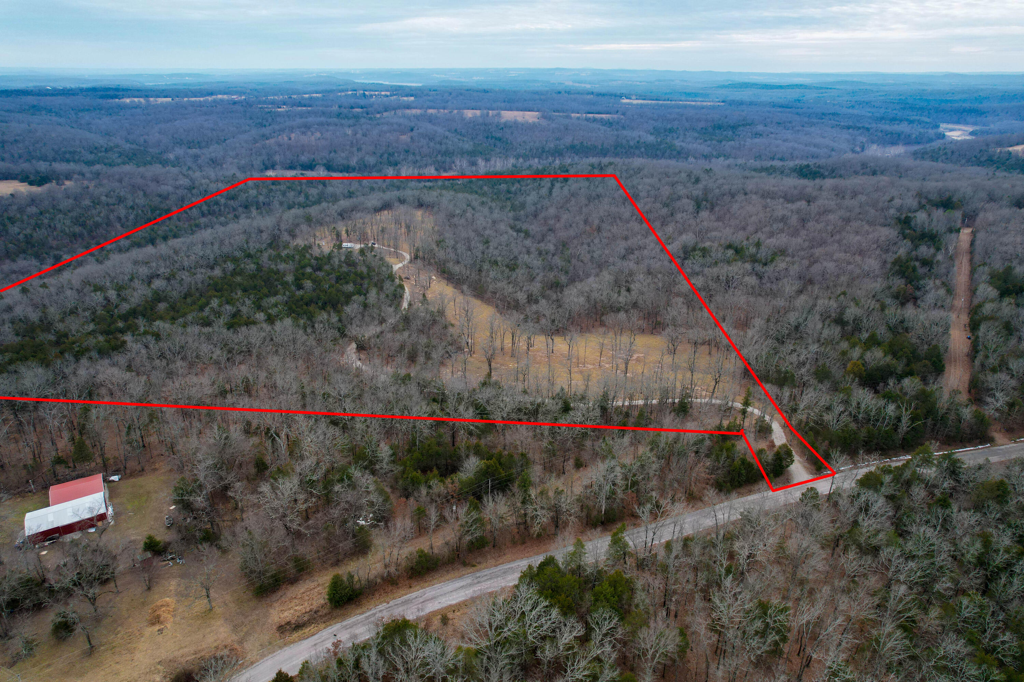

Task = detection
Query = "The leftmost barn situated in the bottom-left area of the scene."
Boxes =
[23,475,109,546]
